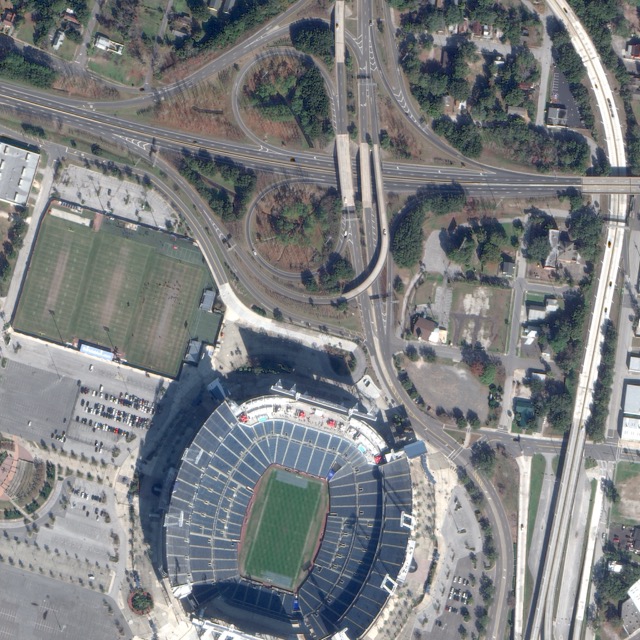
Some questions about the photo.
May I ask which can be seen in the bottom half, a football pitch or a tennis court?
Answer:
football pitch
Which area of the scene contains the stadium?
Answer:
bottom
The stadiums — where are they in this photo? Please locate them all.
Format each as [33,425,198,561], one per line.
[163,378,428,640]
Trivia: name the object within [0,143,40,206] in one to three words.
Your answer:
building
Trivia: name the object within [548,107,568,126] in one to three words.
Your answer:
building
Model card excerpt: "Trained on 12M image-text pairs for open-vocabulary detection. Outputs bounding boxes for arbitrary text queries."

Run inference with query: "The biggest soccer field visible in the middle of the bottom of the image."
[239,464,329,593]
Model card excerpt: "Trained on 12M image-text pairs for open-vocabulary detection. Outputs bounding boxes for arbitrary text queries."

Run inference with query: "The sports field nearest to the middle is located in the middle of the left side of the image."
[126,257,202,370]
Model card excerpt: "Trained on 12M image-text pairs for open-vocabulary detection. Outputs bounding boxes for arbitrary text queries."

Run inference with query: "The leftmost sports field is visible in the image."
[17,226,94,339]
